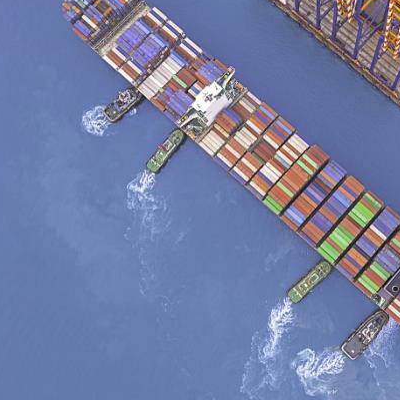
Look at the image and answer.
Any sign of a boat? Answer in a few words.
Yes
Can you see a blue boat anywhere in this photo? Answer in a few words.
No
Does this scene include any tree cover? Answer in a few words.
No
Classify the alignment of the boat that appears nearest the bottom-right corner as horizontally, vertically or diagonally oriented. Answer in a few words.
diagonally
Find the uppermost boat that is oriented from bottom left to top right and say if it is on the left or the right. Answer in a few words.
left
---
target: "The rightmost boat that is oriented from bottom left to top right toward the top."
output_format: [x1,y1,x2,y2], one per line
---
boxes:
[148,130,187,173]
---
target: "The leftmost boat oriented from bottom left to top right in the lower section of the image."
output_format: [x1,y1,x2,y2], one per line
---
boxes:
[289,261,332,302]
